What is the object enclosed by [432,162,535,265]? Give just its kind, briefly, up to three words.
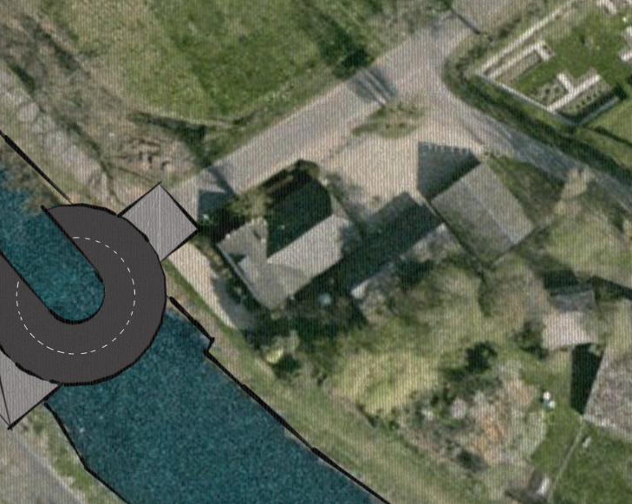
barn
